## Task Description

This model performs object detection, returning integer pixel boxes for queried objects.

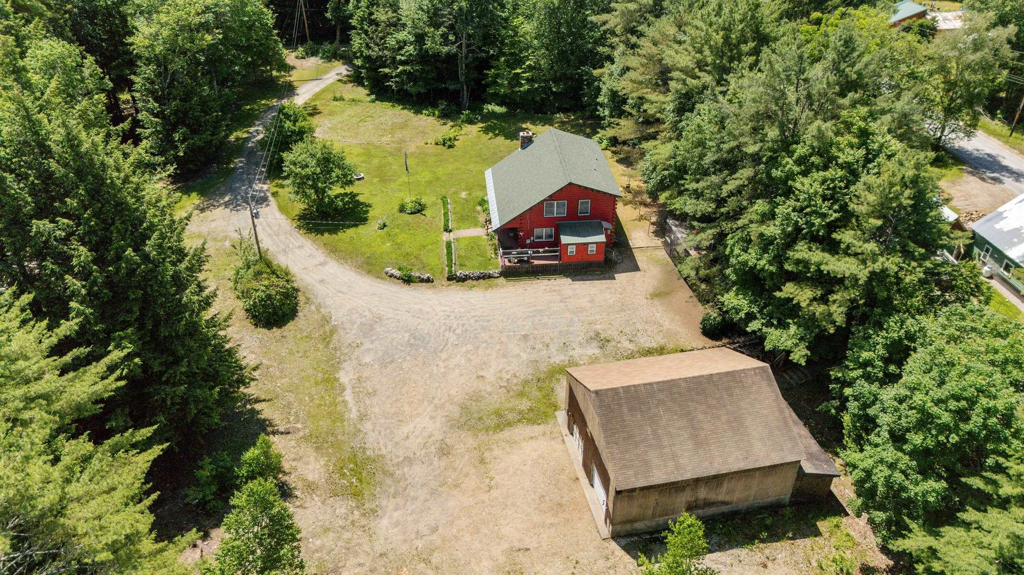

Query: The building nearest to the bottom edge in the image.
[564,346,841,537]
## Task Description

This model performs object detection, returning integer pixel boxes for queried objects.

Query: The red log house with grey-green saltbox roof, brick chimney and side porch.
[484,128,621,274]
